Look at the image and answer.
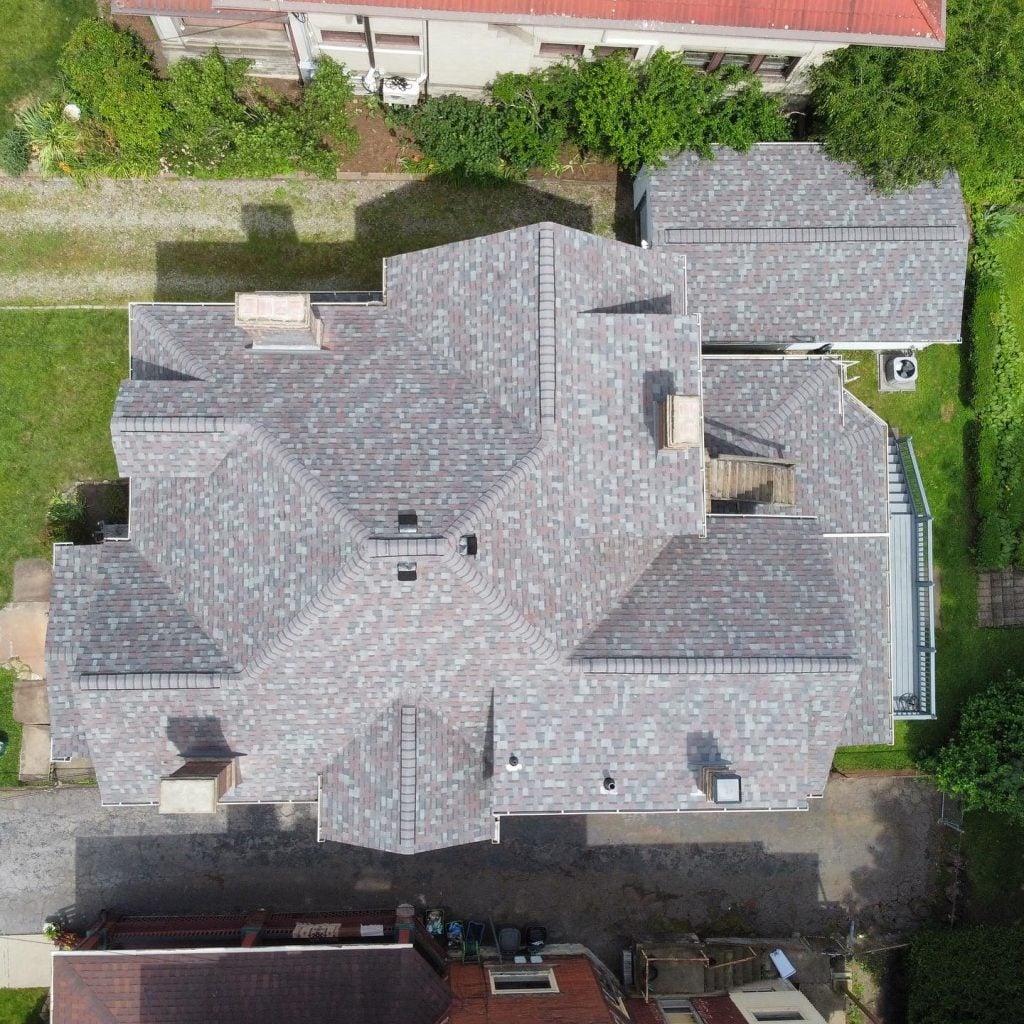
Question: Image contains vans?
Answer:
No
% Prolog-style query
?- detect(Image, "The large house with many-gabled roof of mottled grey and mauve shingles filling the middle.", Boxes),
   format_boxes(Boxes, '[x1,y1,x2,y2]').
[46,220,934,853]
